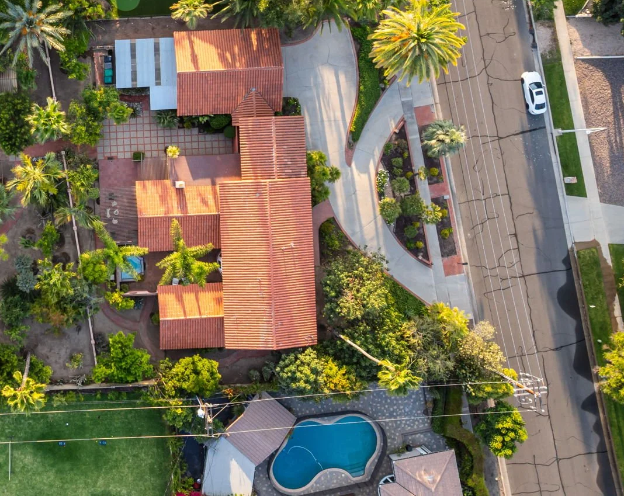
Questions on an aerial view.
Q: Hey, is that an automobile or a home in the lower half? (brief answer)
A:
home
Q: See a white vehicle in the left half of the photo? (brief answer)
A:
No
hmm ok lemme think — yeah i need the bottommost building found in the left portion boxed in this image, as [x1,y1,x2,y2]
[201,391,296,496]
